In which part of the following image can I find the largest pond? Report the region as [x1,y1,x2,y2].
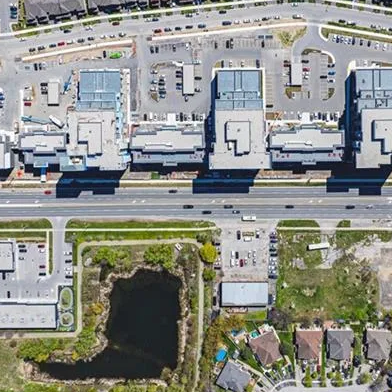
[38,269,181,380]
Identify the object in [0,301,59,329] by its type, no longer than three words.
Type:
building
